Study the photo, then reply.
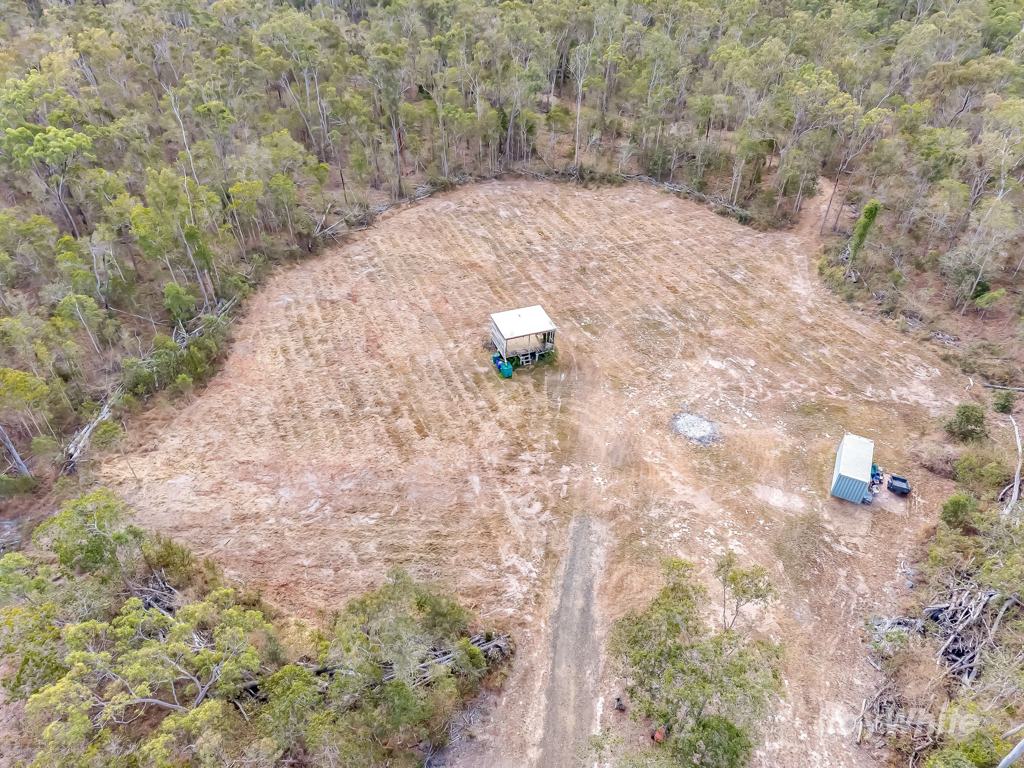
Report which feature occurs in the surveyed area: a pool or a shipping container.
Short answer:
shipping container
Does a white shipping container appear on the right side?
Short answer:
Yes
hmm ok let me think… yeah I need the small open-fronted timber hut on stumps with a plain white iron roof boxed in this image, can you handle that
[490,305,557,365]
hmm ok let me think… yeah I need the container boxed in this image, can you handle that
[830,432,874,504]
